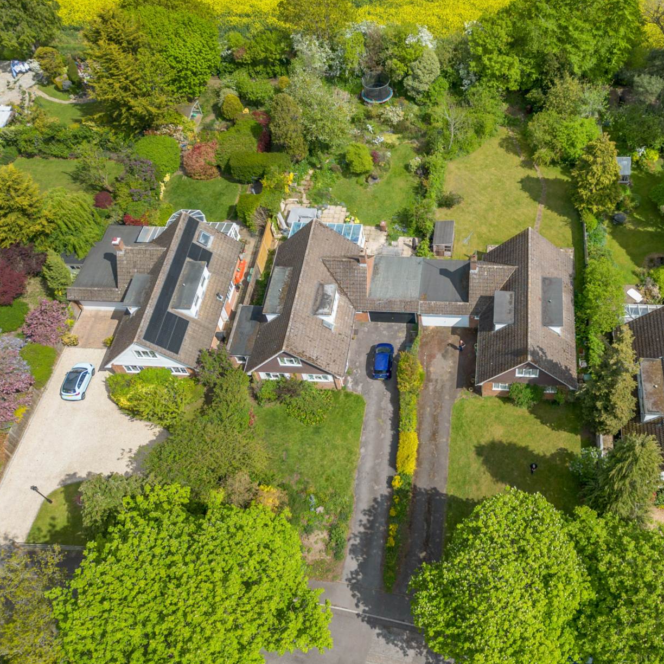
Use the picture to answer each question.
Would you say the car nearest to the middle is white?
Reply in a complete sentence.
No, the color of the car nearest to the middle is blue.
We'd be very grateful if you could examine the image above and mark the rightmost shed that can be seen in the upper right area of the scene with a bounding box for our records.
[613,156,633,188]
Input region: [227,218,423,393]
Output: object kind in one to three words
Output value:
house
